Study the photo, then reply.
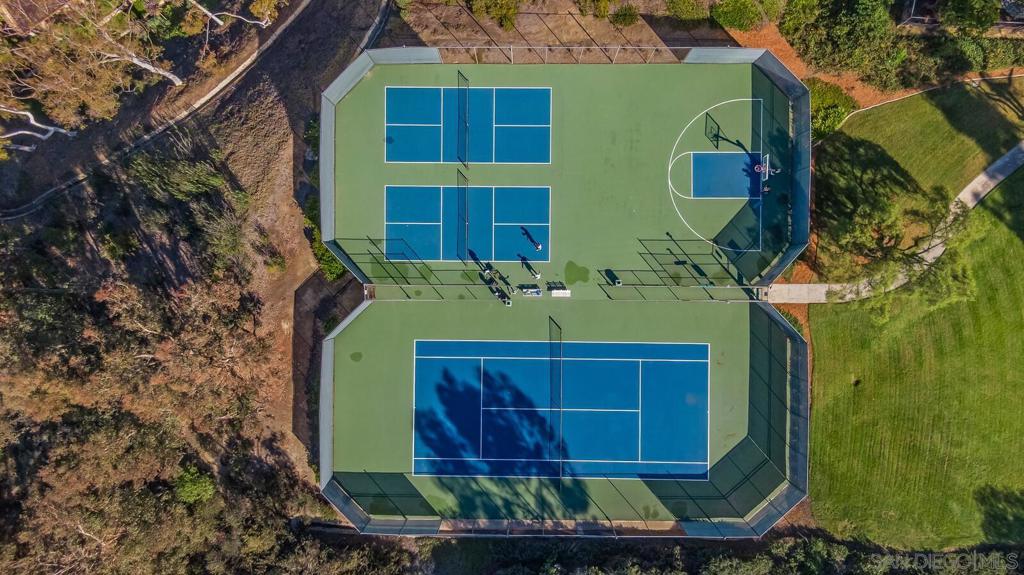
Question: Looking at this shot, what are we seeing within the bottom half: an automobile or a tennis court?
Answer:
tennis court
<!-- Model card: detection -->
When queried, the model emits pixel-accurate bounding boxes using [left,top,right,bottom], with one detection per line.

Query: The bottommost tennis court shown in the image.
[413,340,710,480]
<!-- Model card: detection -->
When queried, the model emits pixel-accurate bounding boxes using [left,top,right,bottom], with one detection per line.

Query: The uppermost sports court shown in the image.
[385,87,552,163]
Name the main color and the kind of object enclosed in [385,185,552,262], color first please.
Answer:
blue sports court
